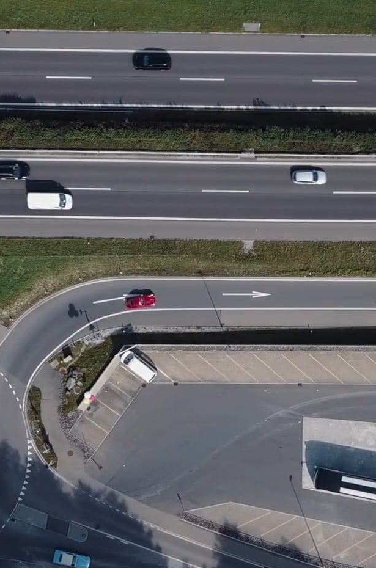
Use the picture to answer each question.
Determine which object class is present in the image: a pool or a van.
van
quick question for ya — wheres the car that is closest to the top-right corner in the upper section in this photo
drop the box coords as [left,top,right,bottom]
[292,168,327,184]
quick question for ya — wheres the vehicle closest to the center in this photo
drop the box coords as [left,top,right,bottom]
[125,293,157,308]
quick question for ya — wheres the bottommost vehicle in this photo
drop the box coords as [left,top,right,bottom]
[53,550,91,568]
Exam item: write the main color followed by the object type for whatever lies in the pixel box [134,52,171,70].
black car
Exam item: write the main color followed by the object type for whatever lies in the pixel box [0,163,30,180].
black car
